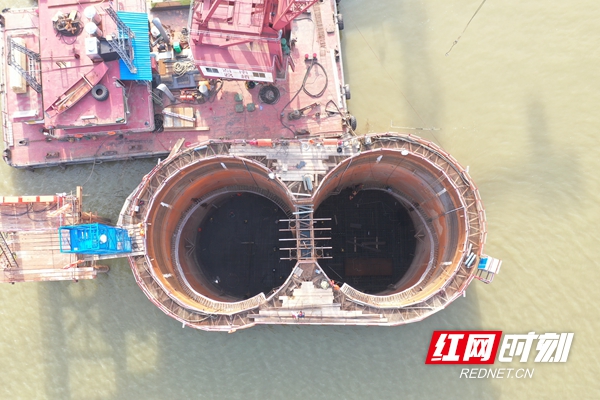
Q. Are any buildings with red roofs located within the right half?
No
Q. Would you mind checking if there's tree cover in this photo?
No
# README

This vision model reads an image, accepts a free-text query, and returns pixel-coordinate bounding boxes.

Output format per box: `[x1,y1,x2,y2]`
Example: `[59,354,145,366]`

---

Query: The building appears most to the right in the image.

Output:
[473,257,500,286]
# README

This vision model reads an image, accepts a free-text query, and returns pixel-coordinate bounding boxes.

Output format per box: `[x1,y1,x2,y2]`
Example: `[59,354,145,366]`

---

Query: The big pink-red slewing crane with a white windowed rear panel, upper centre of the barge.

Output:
[188,0,314,85]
